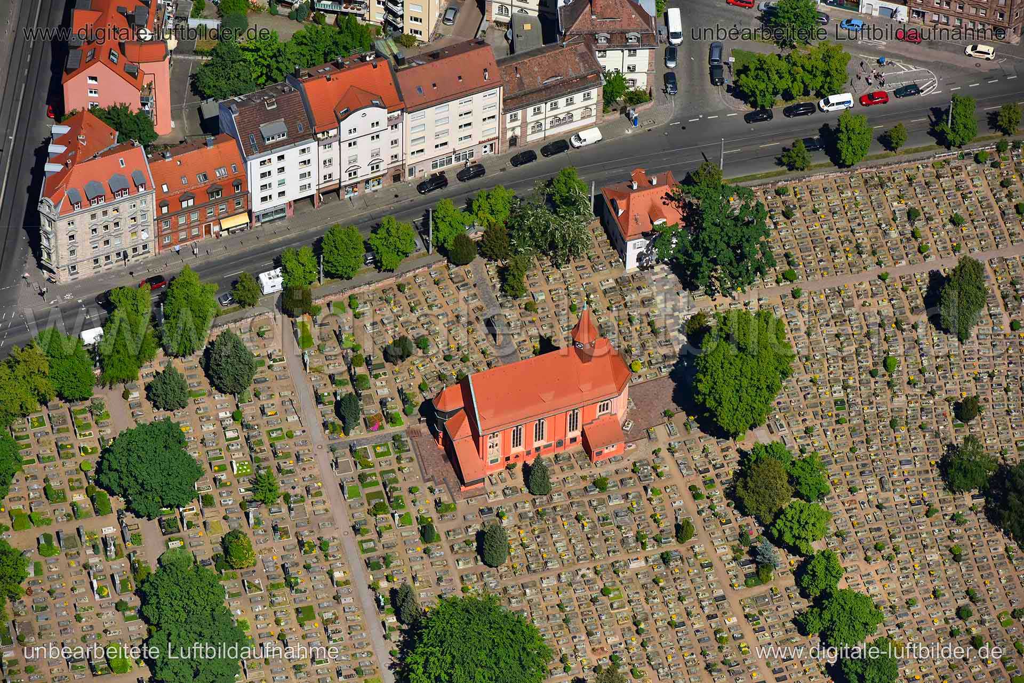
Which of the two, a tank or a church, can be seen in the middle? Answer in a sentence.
It is a church that can be seen in the middle.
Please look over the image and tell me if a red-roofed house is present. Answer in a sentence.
Yes, a red-roofed house appears in the view.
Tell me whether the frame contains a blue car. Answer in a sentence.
Yes, there's a blue car down there.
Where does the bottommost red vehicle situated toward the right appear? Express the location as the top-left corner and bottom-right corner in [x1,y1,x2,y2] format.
[860,90,888,106]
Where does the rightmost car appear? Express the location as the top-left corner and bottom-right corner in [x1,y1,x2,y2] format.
[965,44,995,61]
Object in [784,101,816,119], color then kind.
black car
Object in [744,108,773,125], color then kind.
black car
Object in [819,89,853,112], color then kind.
white vehicle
